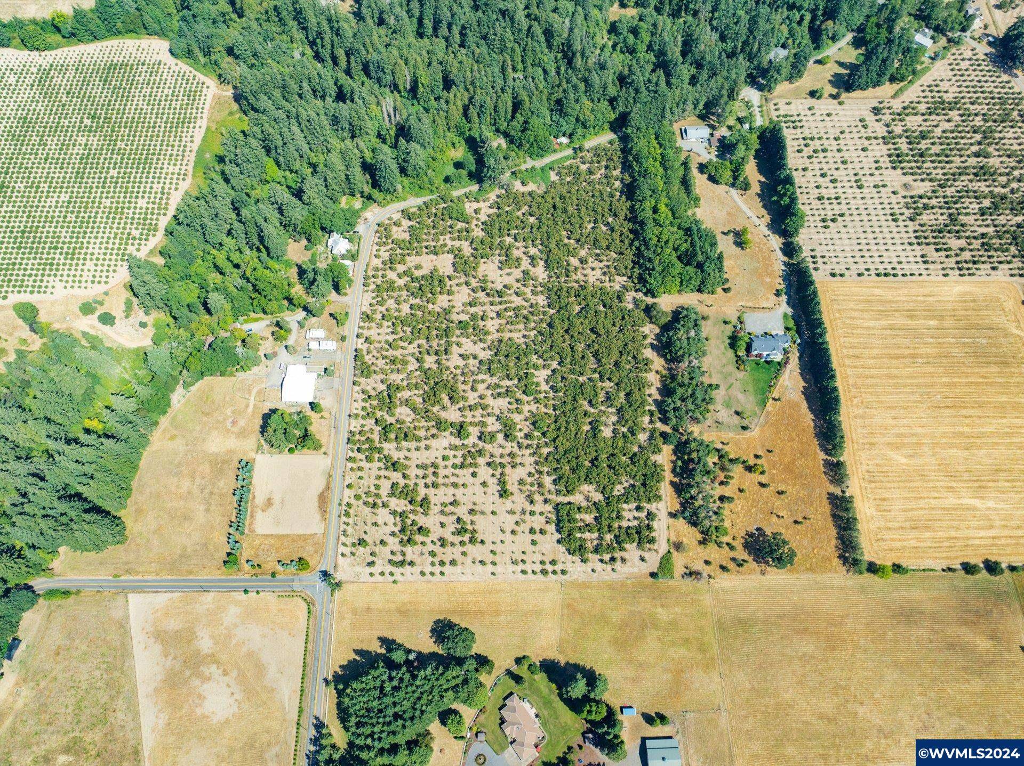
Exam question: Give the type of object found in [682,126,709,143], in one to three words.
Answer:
house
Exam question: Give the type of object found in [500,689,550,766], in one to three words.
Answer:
house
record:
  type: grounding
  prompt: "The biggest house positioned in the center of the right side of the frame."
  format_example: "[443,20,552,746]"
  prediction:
[748,333,793,363]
